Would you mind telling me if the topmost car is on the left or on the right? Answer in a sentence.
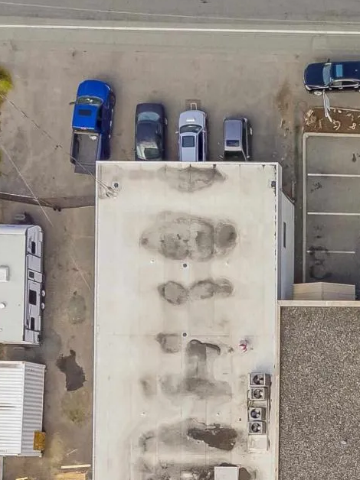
It is on the right.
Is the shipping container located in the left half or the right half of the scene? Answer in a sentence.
It is on the left.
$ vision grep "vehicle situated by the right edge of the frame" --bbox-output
[305,59,360,97]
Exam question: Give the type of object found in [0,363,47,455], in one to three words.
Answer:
shipping container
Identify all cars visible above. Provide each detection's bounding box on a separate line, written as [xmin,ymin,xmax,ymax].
[219,116,254,164]
[176,111,212,162]
[134,104,170,162]
[305,59,360,97]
